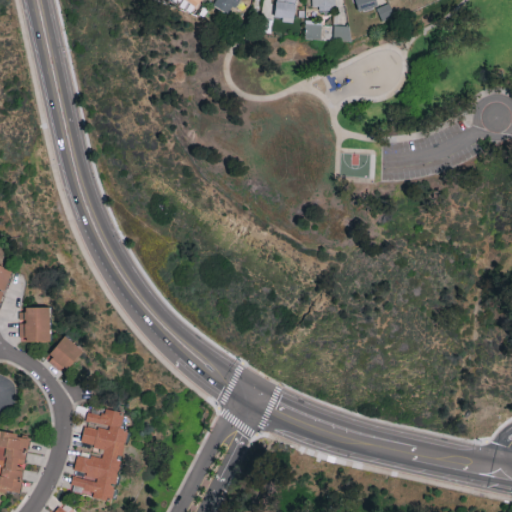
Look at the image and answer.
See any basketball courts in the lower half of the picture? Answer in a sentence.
No, no basketball court can be made out in the lower half of the picture.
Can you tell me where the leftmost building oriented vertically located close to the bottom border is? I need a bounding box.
[0,432,30,498]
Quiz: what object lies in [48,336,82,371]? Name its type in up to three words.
house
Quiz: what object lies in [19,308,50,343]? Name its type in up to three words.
house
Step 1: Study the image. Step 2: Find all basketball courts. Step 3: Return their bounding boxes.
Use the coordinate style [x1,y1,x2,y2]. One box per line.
[340,153,375,180]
